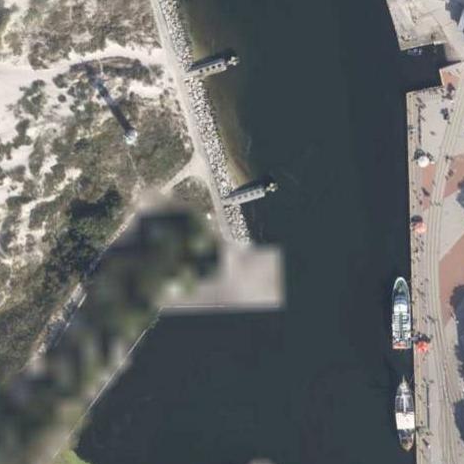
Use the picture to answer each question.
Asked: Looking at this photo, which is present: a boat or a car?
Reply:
boat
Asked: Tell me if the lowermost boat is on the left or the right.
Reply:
right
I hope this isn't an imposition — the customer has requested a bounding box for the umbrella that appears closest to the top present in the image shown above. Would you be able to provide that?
[416,154,431,169]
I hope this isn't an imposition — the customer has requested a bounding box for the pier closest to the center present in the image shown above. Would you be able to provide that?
[223,188,267,208]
